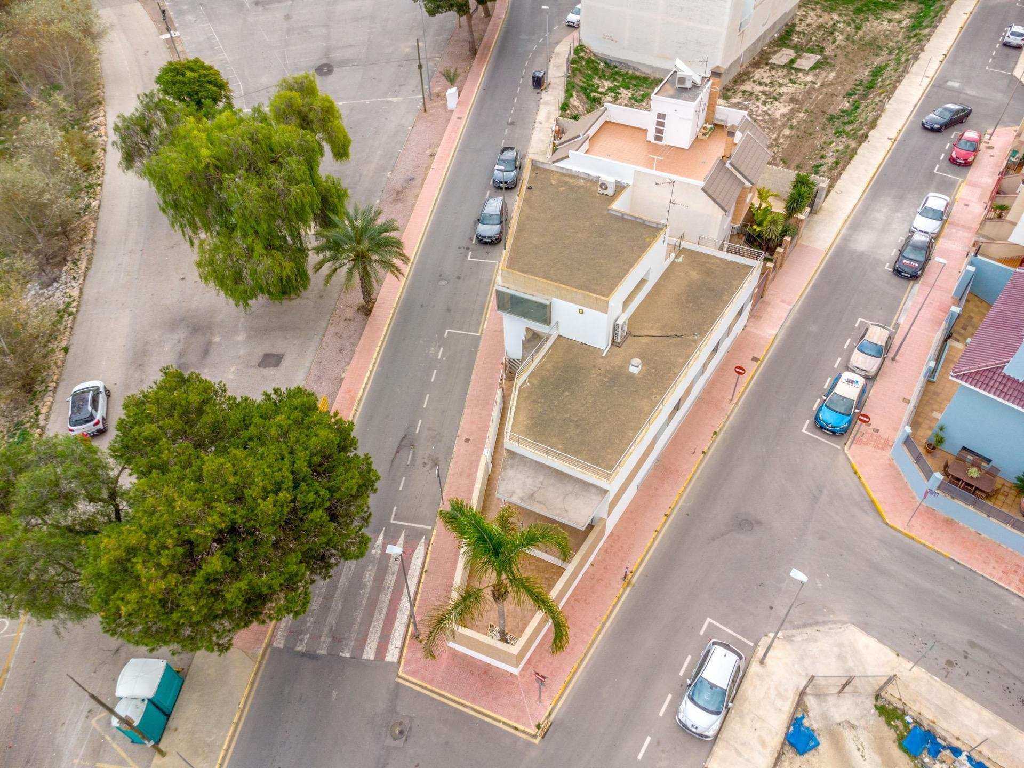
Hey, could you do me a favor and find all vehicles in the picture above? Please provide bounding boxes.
[1002,26,1024,49]
[812,376,863,439]
[908,201,945,242]
[678,639,745,745]
[65,381,108,439]
[474,198,508,244]
[921,104,975,133]
[492,147,521,189]
[846,325,890,379]
[893,237,931,281]
[567,6,583,27]
[949,131,980,165]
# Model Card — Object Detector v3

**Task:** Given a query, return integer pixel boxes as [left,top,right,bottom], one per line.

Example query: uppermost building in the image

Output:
[581,0,800,90]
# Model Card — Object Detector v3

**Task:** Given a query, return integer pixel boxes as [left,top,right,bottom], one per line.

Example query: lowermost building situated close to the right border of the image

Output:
[927,271,1024,488]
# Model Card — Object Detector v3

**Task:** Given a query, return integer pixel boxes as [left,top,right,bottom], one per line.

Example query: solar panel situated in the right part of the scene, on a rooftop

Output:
[673,58,700,89]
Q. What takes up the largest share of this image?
paved ground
